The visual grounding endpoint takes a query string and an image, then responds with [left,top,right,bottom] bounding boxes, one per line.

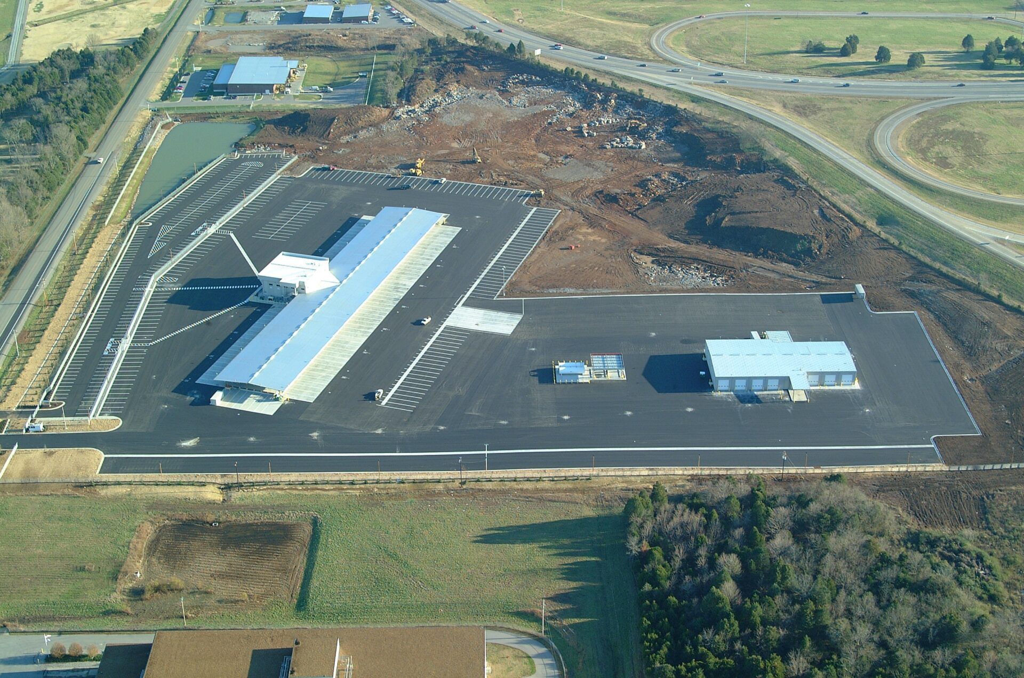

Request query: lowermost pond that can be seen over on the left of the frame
[131,124,255,221]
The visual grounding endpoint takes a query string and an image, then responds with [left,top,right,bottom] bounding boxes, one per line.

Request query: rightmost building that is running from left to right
[700,338,857,401]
